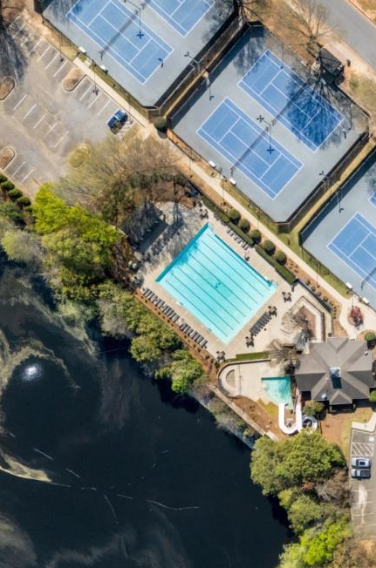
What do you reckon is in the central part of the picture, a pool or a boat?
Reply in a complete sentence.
Visible in the central part of the picture is a pool.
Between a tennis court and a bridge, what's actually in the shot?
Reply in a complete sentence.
It is a tennis court that can be seen here.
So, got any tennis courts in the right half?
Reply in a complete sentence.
Yes, a tennis court appears in the right half.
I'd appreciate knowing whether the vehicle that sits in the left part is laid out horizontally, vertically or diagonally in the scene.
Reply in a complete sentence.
The vehicle that sits in the left part is laid out diagonally.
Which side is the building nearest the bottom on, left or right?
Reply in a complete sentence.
The building nearest the bottom sits on the right side.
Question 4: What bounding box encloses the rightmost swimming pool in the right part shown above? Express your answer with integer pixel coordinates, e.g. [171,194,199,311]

[262,376,294,409]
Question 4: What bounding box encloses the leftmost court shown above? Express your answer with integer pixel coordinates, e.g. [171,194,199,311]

[65,0,175,84]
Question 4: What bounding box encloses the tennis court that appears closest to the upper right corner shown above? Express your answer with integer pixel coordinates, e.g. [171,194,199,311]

[236,48,345,153]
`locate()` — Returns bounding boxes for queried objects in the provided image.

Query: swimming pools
[155,223,277,344]
[226,369,236,388]
[262,376,294,409]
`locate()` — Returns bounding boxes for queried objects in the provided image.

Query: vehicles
[349,469,372,480]
[350,458,371,469]
[104,108,127,131]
